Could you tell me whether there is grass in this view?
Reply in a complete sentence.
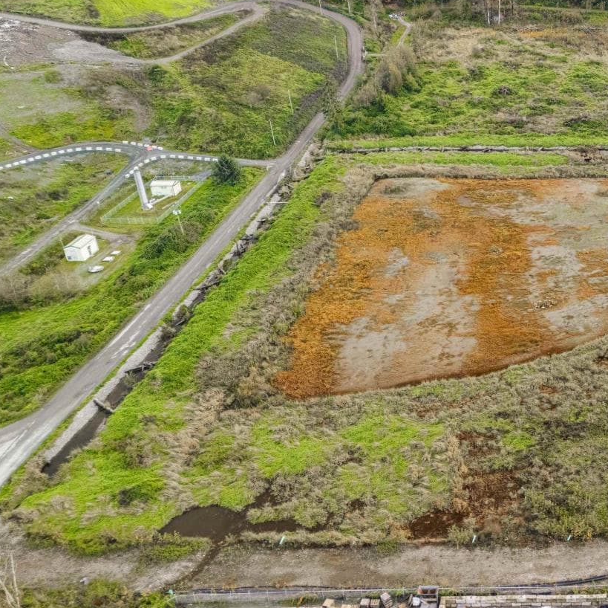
Yes, the picture does contain grass.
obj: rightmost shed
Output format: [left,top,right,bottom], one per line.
[149,181,179,197]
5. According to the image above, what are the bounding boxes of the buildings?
[61,236,93,261]
[149,181,179,197]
